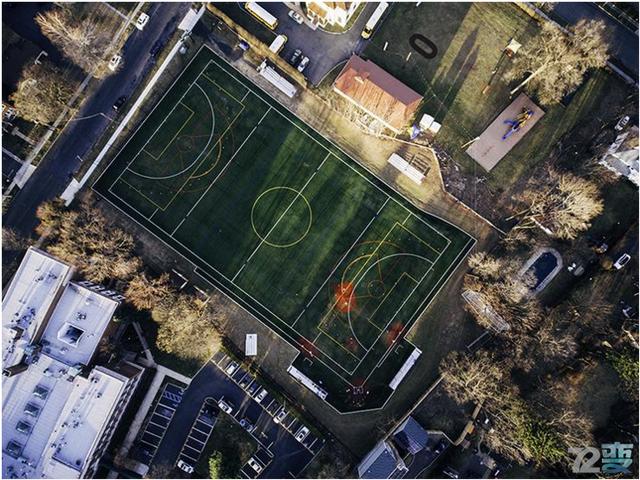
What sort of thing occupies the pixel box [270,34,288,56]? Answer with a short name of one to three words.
vehicle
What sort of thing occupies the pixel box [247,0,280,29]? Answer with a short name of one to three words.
bus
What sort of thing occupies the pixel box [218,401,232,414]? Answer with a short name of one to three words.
vehicle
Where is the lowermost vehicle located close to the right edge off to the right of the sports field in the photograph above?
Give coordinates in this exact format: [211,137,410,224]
[615,253,629,269]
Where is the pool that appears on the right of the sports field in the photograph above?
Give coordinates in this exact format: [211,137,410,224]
[514,246,562,301]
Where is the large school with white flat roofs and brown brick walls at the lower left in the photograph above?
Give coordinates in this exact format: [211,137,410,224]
[0,246,149,480]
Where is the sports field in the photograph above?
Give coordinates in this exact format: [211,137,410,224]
[91,44,477,414]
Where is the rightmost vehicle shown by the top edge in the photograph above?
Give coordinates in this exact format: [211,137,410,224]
[361,0,388,39]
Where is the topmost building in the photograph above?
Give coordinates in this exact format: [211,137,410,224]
[304,0,359,39]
